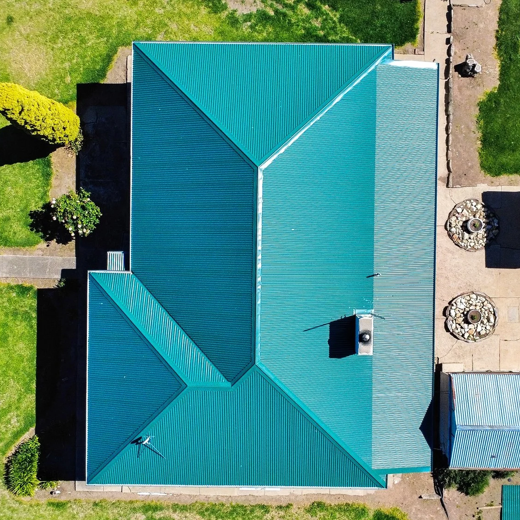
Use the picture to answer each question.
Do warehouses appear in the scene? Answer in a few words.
No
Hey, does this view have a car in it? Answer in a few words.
No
